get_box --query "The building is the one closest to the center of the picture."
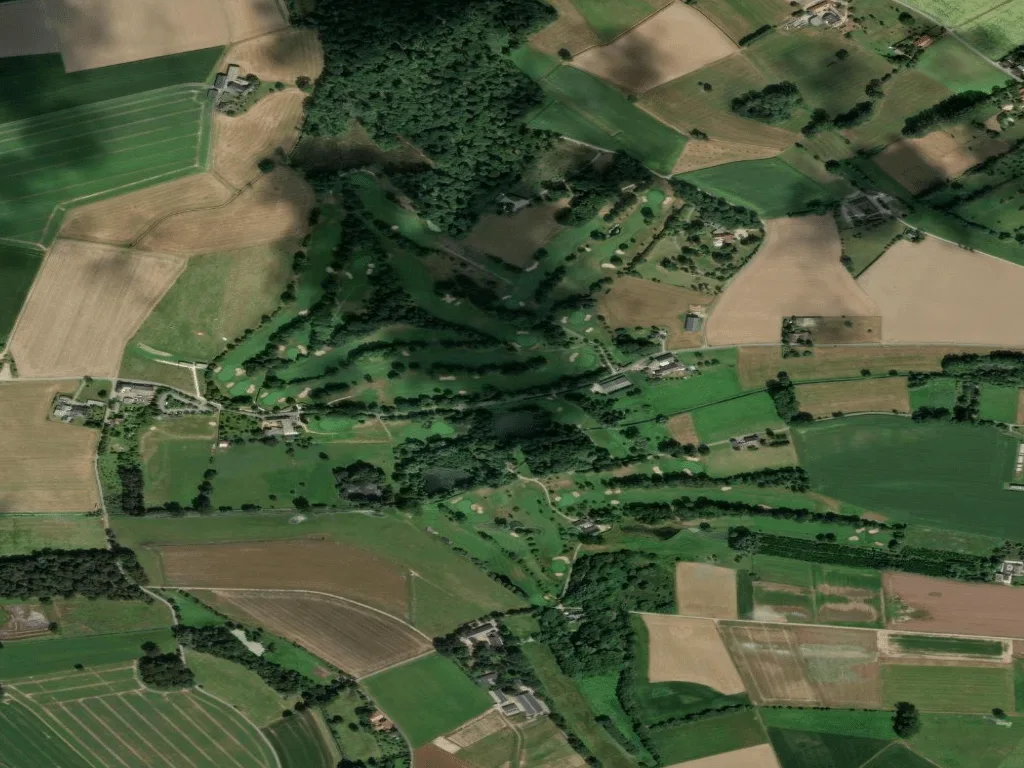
[599,375,631,395]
